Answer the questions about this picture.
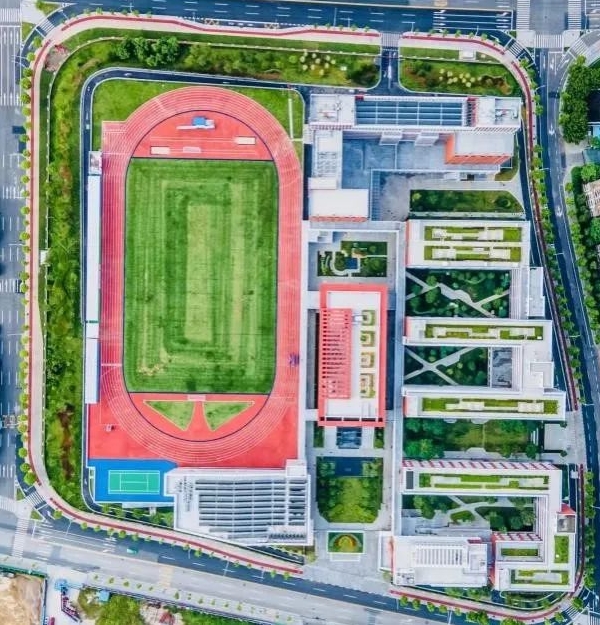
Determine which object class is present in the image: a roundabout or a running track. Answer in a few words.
running track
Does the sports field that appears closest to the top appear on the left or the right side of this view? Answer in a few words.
left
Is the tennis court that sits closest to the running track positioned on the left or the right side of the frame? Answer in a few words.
left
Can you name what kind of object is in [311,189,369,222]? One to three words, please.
building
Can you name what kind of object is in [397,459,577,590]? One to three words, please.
building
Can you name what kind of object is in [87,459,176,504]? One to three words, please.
tennis court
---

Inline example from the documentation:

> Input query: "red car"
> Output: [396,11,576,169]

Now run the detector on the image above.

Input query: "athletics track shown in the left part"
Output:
[88,87,300,467]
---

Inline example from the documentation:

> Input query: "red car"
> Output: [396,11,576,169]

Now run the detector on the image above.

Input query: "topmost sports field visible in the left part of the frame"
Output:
[123,157,277,395]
